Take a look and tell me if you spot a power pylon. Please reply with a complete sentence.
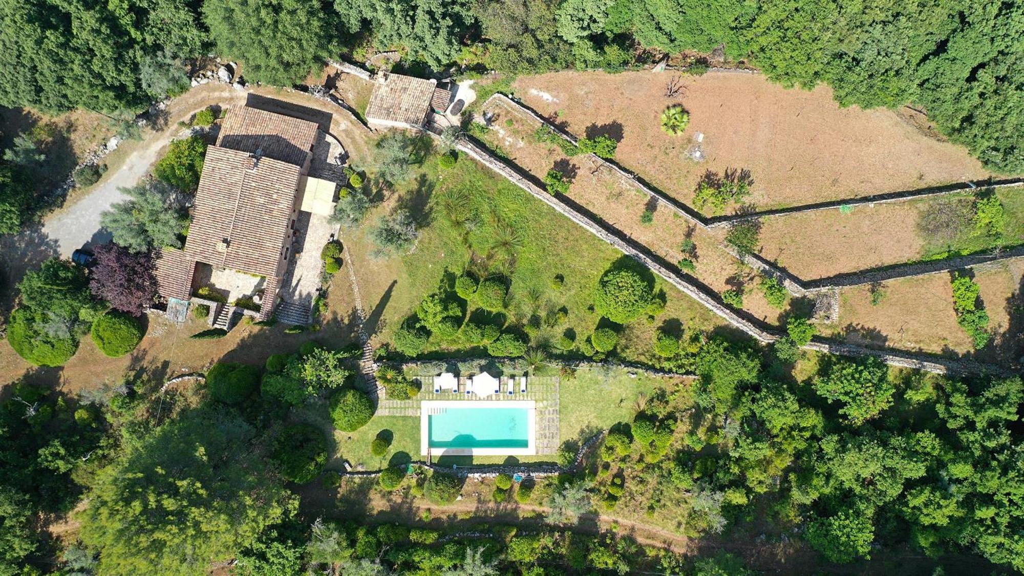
No, I can't see a single power pylon in this photo.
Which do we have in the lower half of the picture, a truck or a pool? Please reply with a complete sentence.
Visible in the lower half of the picture is a pool.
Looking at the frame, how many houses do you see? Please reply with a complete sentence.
The number of houses here is 2.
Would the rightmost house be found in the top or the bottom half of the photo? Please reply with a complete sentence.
You can find the rightmost house in the top half.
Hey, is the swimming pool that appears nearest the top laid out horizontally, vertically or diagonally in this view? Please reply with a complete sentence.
In this picture, the swimming pool that appears nearest the top lies horizontally.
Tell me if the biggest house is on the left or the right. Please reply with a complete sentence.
The biggest house sits on the left side.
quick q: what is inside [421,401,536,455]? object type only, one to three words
swimming pool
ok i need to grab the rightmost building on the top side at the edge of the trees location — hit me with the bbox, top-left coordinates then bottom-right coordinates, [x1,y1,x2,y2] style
[364,71,453,129]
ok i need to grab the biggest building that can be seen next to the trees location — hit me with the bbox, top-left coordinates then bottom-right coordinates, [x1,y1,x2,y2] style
[151,104,319,300]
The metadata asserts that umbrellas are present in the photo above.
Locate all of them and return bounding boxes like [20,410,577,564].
[440,373,456,389]
[473,370,497,399]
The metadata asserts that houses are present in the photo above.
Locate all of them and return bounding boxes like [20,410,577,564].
[364,71,453,129]
[151,104,319,300]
